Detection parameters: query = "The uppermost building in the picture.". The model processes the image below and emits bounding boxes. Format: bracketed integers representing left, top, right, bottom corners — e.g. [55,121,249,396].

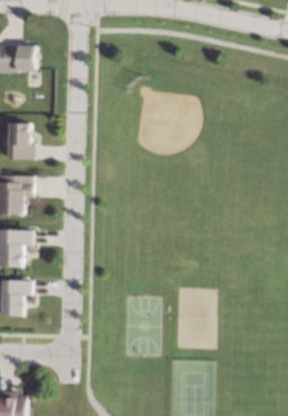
[0,45,37,74]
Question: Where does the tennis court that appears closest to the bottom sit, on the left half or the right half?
right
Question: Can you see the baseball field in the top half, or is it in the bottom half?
top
